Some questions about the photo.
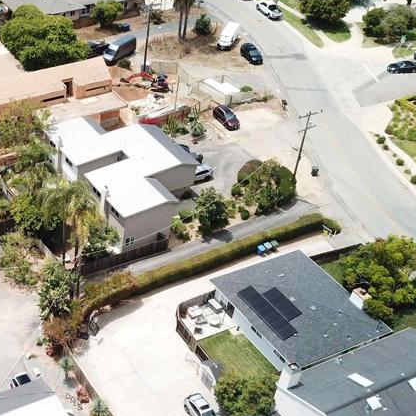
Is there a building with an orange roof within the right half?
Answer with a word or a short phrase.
No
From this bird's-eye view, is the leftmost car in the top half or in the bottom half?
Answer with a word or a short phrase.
bottom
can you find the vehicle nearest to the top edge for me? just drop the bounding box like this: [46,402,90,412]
[253,2,286,21]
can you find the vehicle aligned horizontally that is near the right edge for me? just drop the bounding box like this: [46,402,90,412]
[385,60,416,76]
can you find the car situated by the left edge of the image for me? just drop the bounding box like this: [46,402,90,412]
[5,365,31,389]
